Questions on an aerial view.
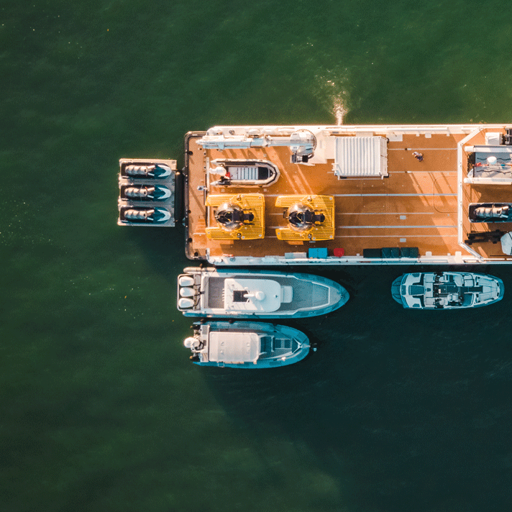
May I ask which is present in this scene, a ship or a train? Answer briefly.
ship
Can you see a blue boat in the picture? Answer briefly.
Yes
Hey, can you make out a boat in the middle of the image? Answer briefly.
Yes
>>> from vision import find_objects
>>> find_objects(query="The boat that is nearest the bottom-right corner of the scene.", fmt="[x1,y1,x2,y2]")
[392,266,504,310]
